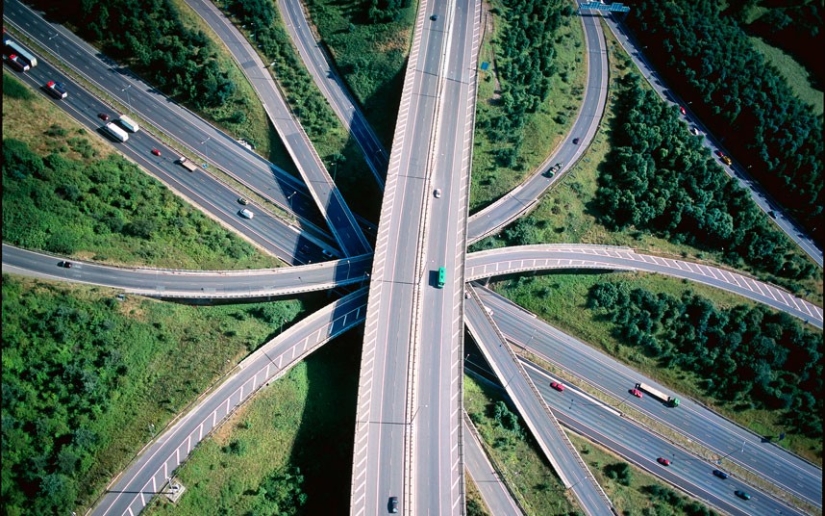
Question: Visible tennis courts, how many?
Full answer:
I count no tennis courts.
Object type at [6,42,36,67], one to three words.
truck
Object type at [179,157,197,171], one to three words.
vehicle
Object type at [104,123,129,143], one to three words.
vehicle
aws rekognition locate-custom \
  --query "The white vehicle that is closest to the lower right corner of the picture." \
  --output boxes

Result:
[638,383,678,409]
